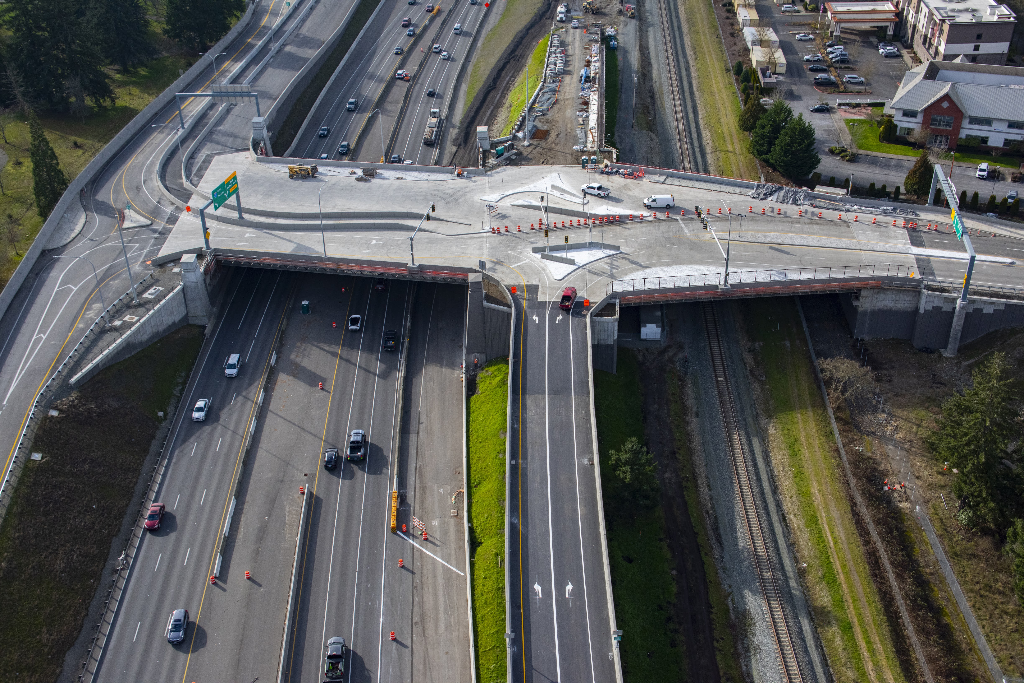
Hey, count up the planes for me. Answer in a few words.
none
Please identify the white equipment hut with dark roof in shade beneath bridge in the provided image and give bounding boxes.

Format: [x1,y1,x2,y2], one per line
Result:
[636,307,664,339]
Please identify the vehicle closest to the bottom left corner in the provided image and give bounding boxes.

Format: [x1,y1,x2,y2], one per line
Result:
[167,608,189,644]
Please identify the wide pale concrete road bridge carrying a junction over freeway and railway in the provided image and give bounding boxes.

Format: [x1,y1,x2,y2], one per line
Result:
[151,145,1024,376]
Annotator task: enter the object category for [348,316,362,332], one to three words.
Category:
car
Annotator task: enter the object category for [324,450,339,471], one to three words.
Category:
car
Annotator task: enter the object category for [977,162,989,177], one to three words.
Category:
vehicle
